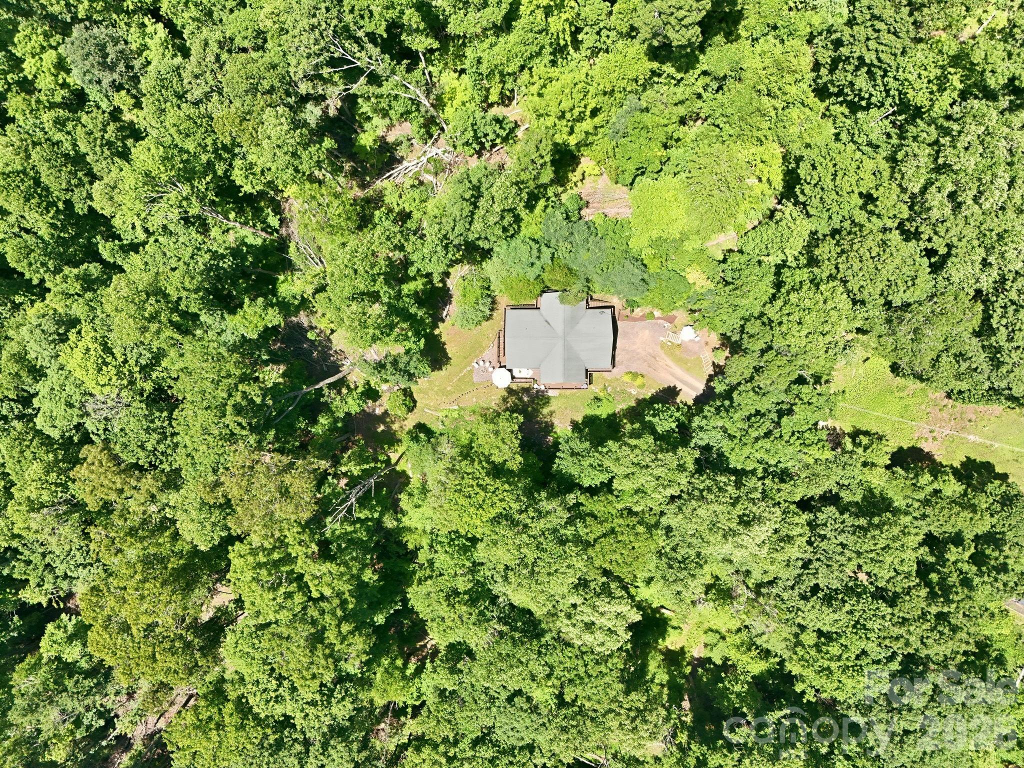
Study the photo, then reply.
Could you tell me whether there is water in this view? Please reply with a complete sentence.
No, the picture contains no water.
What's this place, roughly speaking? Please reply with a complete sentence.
The area seen from above is a forest.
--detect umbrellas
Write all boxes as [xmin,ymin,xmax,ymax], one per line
[680,326,696,342]
[492,368,512,388]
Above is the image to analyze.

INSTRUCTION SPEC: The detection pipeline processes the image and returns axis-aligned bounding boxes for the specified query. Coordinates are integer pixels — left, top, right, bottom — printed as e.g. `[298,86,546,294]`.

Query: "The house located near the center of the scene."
[498,291,613,390]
